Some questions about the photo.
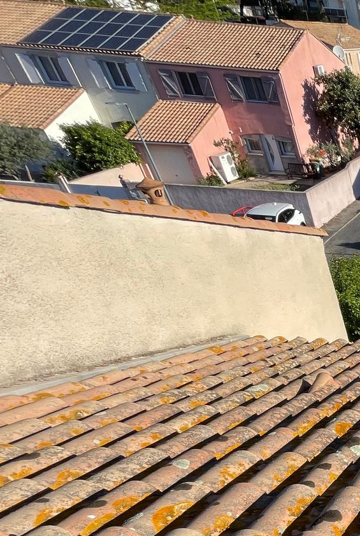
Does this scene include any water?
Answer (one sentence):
No, water can't be seen anywhere here.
